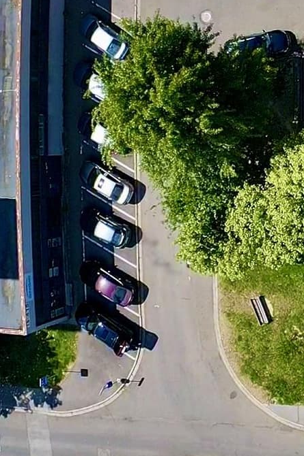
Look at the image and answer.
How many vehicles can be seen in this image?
8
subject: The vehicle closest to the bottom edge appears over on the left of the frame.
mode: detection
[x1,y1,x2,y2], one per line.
[76,303,142,355]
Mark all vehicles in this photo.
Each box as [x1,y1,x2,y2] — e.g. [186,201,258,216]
[79,111,129,157]
[82,209,140,251]
[79,15,137,61]
[76,63,128,108]
[231,27,298,58]
[76,303,142,355]
[81,162,142,206]
[85,264,144,309]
